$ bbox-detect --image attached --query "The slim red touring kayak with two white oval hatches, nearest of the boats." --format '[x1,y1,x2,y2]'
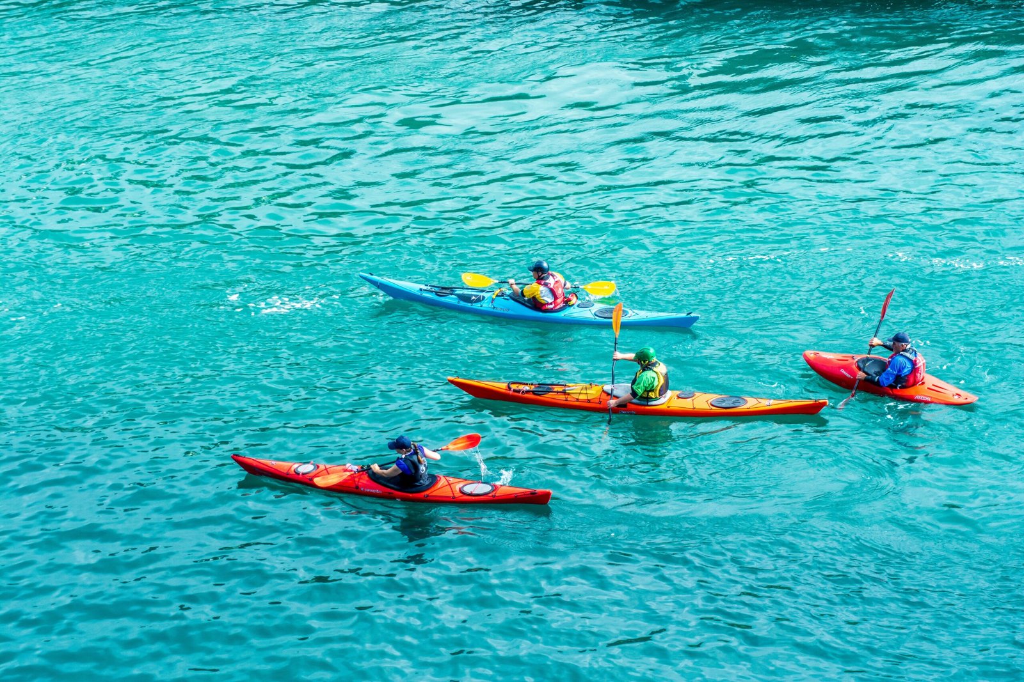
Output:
[231,455,551,510]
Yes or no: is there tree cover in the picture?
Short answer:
No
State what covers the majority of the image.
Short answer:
water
